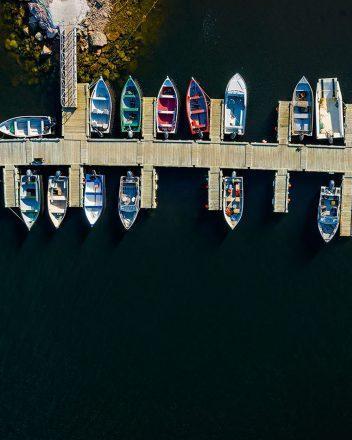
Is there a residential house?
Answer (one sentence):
No, no residential house is visible in the scene.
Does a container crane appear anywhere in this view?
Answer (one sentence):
No, this view has no container crane in it.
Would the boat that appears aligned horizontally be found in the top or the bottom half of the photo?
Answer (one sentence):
The boat that appears aligned horizontally sits in the top half of the picture.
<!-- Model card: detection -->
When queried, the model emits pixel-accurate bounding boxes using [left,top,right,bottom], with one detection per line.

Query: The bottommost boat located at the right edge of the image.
[318,179,341,242]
